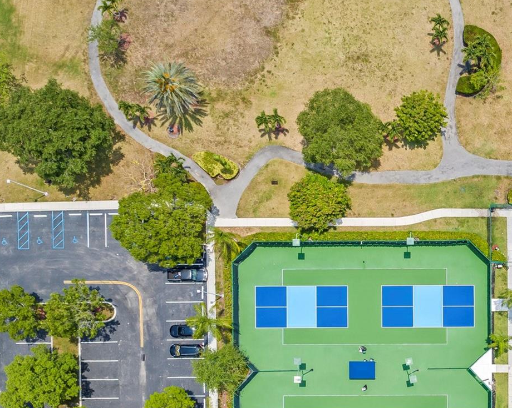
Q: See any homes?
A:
No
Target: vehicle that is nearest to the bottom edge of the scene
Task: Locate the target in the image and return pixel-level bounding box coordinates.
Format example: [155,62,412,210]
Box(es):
[170,344,204,359]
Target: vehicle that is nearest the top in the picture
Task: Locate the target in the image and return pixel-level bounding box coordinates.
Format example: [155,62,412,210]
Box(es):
[167,267,209,283]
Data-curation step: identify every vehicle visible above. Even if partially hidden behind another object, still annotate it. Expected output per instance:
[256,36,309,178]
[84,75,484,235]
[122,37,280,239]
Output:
[170,344,204,359]
[167,267,209,283]
[166,324,198,339]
